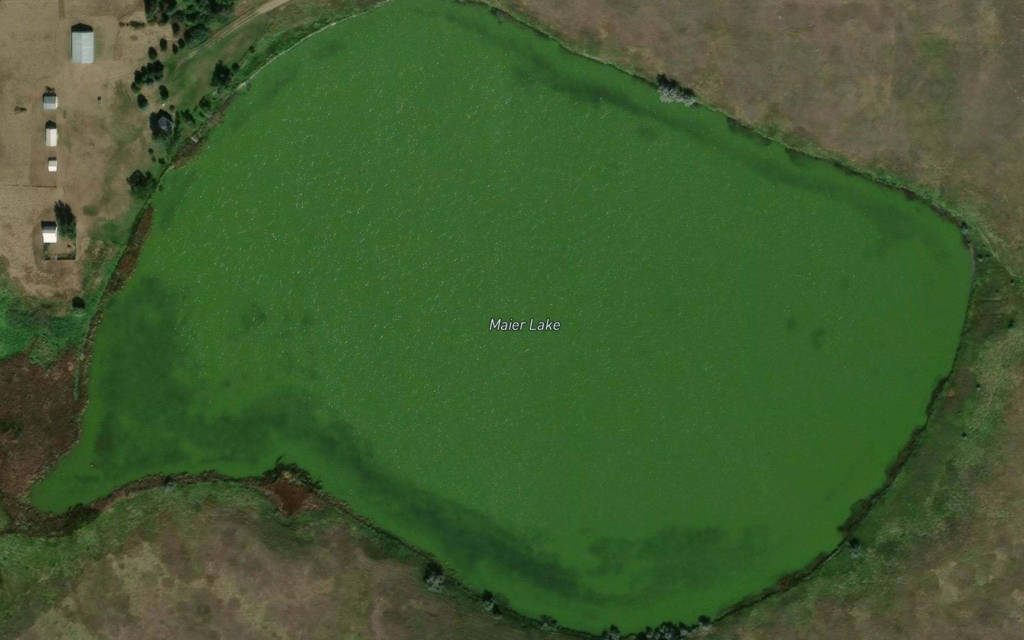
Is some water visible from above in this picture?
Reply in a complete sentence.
Yes, water shows up in the scene.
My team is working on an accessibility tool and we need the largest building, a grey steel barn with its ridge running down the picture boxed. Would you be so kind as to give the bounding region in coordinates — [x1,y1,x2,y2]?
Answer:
[71,32,95,64]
